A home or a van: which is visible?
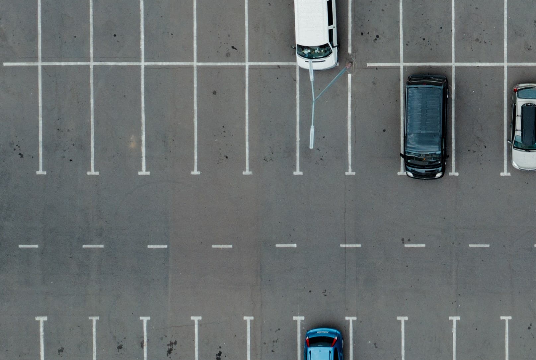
van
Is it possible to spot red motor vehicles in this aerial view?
No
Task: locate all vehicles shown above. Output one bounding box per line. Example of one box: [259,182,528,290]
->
[303,326,345,360]
[505,83,536,171]
[289,0,340,70]
[399,73,450,181]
